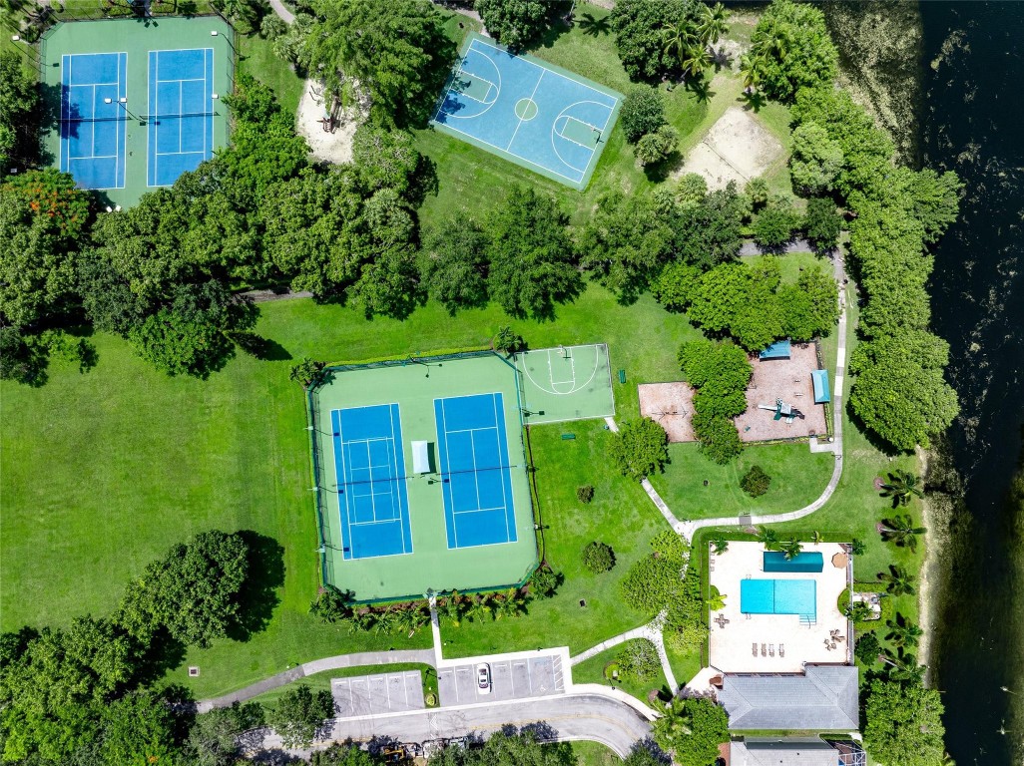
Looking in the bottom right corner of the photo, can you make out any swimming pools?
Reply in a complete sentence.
Yes, I can see a swimming pool in the bottom right corner of the photo.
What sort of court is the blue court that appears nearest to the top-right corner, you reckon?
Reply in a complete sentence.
From above, the blue court that appears nearest to the top-right corner can be identified as a basketball court.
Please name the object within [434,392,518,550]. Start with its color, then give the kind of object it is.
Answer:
blue tennis court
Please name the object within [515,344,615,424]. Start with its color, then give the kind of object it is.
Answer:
green basketball court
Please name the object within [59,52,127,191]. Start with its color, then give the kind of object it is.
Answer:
blue tennis court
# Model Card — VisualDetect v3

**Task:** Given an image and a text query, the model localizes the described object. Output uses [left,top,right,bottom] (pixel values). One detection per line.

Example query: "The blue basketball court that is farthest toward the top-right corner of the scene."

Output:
[432,30,625,192]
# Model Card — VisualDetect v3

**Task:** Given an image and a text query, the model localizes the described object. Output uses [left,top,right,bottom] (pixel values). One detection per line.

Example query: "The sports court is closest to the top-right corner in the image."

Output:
[671,105,788,194]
